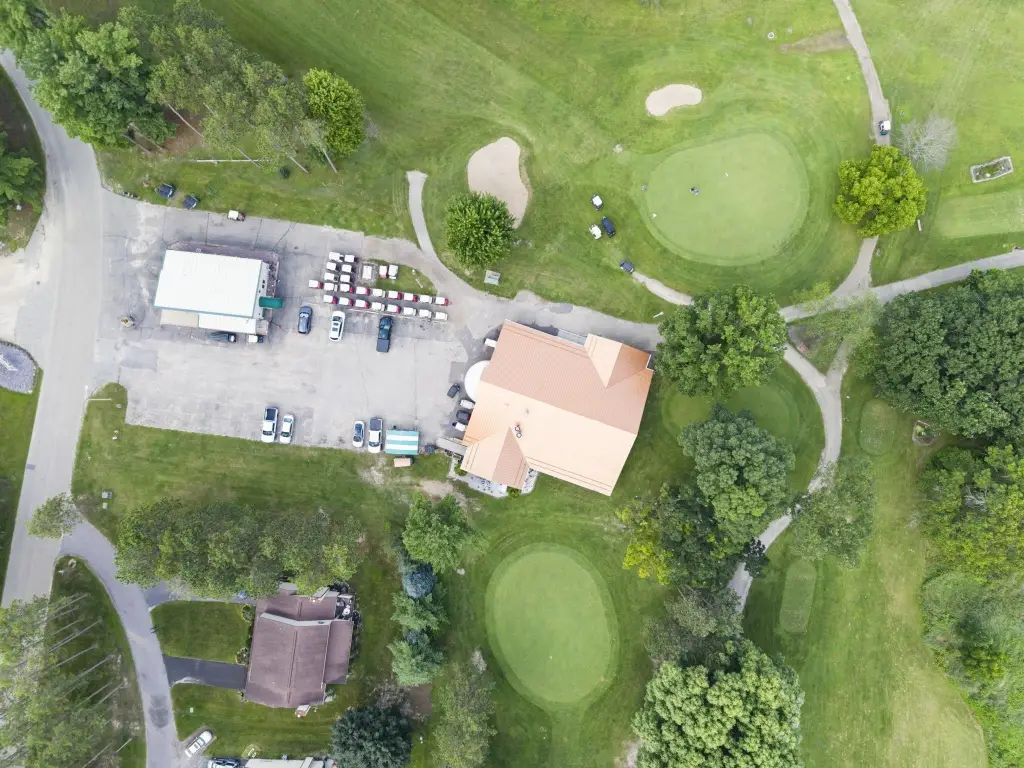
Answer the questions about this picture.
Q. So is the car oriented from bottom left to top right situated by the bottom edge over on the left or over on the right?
left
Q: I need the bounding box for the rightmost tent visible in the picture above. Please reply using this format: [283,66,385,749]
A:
[386,430,420,456]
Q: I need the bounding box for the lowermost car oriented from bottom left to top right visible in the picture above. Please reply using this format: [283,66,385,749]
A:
[186,728,214,758]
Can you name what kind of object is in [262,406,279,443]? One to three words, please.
vehicle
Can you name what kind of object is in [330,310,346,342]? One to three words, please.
car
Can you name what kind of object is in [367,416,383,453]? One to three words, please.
vehicle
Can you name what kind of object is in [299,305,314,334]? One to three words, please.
car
